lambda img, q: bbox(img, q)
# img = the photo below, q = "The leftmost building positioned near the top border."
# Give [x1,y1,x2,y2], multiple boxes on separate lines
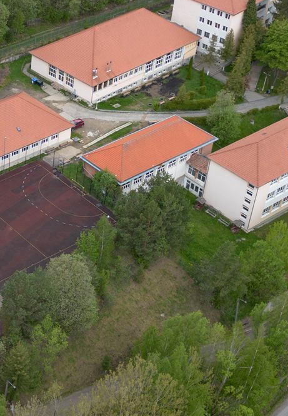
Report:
[27,7,204,103]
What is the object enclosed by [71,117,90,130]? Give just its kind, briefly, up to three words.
vehicle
